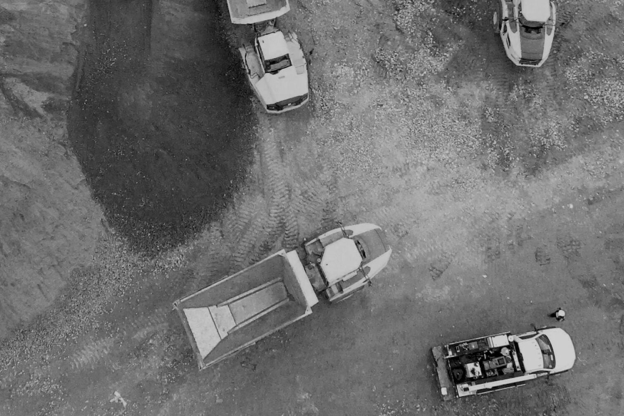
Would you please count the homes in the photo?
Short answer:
none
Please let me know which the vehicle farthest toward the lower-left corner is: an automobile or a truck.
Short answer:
truck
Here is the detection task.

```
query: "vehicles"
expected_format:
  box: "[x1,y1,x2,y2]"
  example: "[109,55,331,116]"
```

[429,327,577,399]
[169,220,392,377]
[494,0,565,67]
[226,0,307,119]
